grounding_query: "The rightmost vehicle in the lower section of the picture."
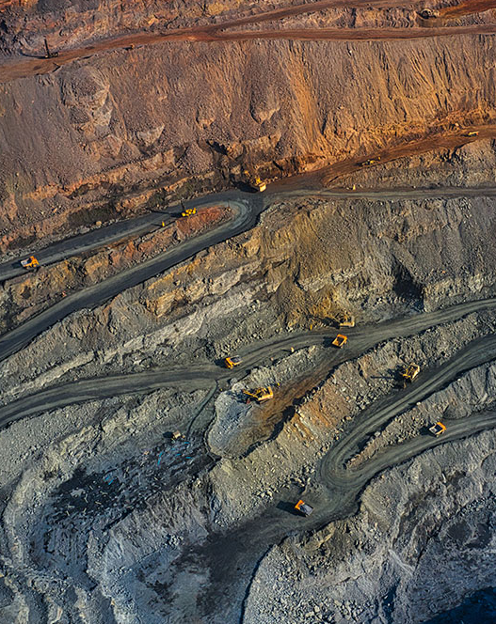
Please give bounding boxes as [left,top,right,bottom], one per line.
[429,418,448,435]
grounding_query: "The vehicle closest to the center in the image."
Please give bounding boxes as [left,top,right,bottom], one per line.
[224,354,242,369]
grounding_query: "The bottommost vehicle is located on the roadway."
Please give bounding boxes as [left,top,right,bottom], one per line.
[294,500,313,516]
